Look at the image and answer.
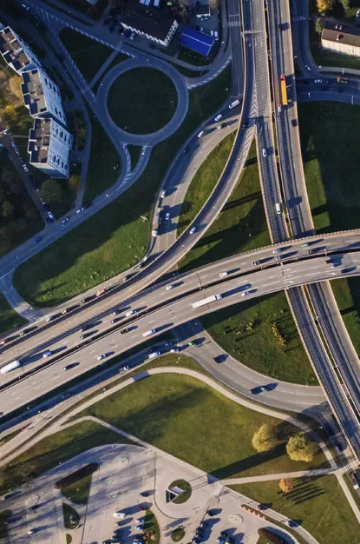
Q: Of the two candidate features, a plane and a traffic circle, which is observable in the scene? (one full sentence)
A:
Looking from above, you can make out a traffic circle.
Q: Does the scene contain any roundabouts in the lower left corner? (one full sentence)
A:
No, no roundabout is visible in the lower left corner.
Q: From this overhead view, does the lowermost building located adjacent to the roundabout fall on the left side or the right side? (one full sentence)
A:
The lowermost building located adjacent to the roundabout is on the left side of the image.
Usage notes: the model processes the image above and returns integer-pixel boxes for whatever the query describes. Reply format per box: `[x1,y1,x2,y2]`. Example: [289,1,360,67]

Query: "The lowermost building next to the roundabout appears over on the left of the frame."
[27,118,71,171]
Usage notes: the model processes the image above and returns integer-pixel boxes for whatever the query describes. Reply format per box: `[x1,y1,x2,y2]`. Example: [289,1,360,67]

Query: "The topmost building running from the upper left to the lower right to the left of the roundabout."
[0,29,53,77]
